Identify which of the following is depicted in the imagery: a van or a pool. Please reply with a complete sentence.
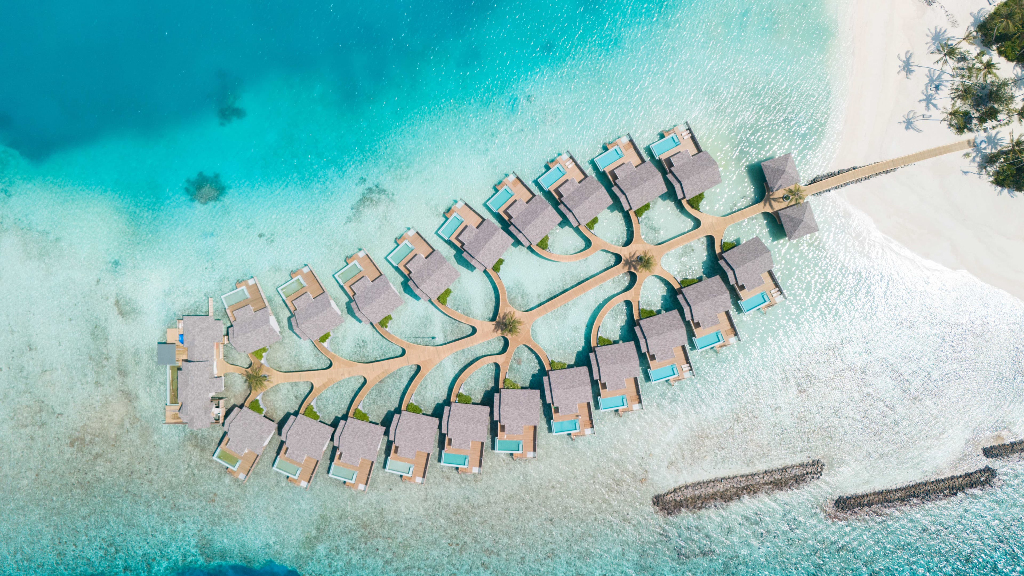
There is a pool in the scene.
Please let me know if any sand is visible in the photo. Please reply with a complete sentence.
Yes, some sand is visible.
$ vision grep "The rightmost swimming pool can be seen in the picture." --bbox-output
[736,290,769,314]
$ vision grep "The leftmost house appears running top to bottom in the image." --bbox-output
[161,299,230,428]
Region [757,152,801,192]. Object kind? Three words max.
building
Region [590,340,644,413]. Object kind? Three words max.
house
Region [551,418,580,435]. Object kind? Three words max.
swimming pool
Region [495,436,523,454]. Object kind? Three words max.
swimming pool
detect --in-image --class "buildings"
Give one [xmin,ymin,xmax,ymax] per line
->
[227,273,286,354]
[778,201,819,241]
[161,299,230,428]
[397,224,462,303]
[390,410,440,488]
[334,417,386,494]
[220,406,282,486]
[603,131,667,211]
[495,389,540,460]
[548,149,613,228]
[446,196,515,273]
[635,309,696,384]
[658,120,722,200]
[757,152,801,192]
[590,340,644,413]
[342,246,404,326]
[496,169,563,248]
[544,366,596,438]
[284,262,344,343]
[677,275,742,351]
[718,236,788,312]
[279,412,337,492]
[442,402,490,477]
